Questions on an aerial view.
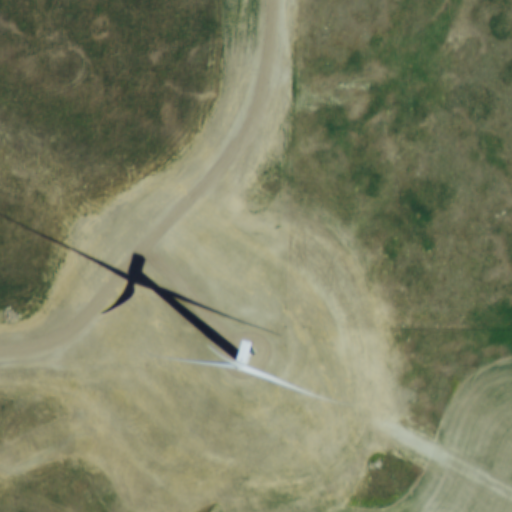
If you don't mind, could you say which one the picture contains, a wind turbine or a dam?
wind turbine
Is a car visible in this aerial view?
No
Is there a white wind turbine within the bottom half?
Yes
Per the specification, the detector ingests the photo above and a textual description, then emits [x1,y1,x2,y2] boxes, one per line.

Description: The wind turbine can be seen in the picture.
[155,338,364,407]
